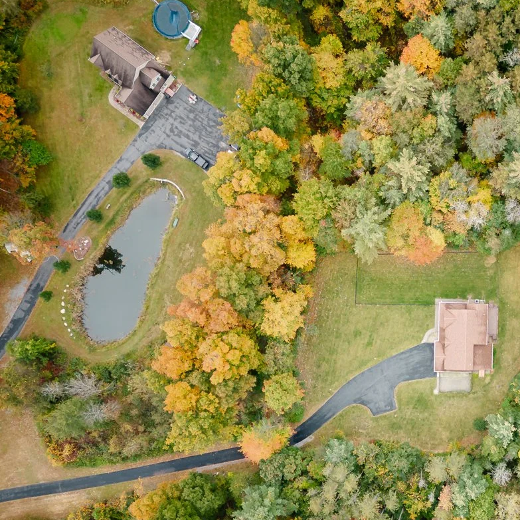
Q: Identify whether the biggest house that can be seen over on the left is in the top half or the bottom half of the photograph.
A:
top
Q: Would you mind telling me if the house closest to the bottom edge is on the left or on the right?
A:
right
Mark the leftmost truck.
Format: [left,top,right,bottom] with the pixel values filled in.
[183,147,209,169]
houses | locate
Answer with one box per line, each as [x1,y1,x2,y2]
[434,301,494,372]
[88,26,179,119]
